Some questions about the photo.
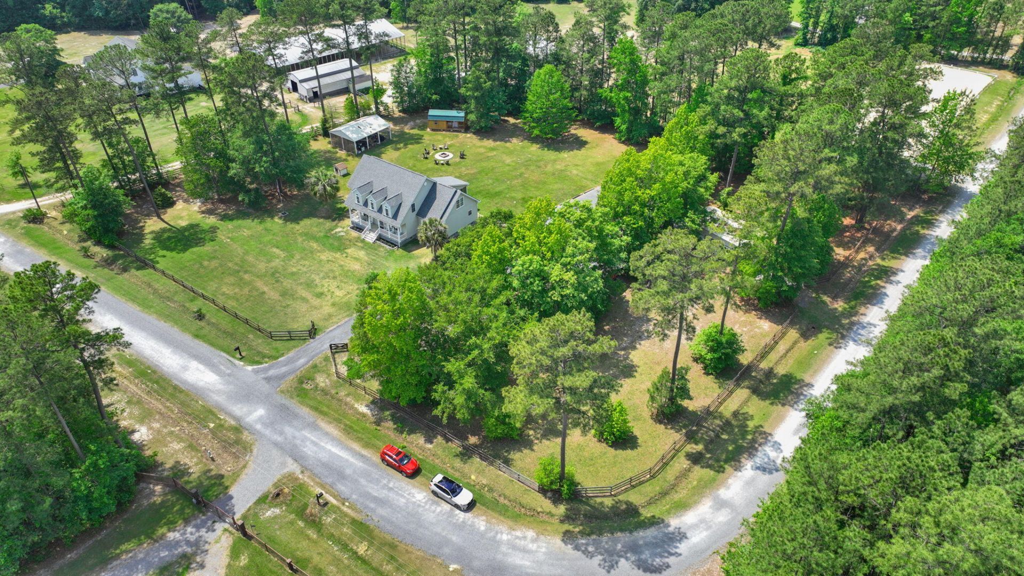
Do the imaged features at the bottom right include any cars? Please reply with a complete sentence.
No, I can find no car at the bottom right.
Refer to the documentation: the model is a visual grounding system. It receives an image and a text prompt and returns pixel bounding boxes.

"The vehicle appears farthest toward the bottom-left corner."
[383,439,428,473]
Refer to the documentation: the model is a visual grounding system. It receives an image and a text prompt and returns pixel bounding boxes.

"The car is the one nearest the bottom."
[432,468,479,504]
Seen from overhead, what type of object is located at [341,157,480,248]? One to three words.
house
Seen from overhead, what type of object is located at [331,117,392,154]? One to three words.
shed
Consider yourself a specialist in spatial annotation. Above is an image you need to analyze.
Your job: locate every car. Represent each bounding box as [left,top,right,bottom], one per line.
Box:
[432,468,479,504]
[383,439,428,473]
